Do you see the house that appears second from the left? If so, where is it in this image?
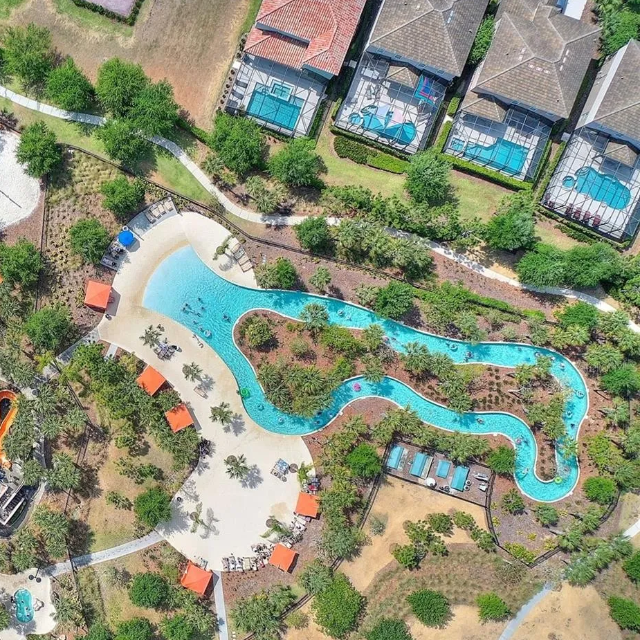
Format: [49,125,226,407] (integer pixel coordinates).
[360,0,488,91]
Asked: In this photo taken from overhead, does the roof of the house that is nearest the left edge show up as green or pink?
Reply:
pink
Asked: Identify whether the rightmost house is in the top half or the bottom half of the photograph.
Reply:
top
